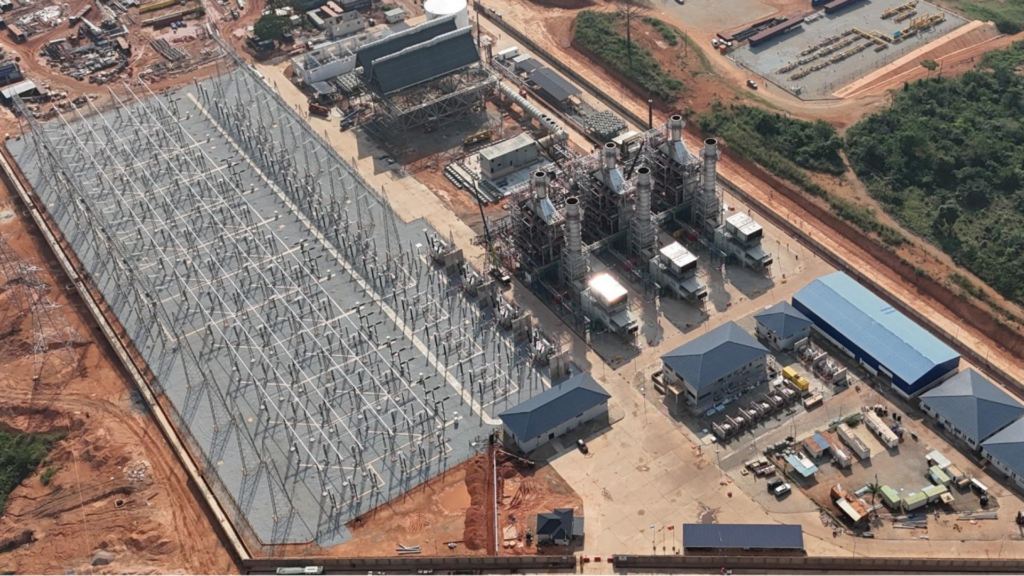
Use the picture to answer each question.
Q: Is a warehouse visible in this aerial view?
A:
Yes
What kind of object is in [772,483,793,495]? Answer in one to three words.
vehicle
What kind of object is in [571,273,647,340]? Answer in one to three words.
house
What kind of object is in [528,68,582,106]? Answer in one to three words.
shed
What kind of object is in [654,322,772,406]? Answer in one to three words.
building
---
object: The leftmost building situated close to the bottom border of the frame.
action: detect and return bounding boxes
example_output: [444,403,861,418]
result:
[533,508,588,548]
